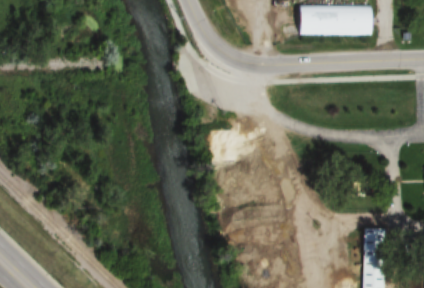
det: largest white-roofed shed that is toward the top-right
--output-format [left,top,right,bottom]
[300,6,373,36]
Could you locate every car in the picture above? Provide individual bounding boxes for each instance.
[262,269,269,278]
[300,57,310,62]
